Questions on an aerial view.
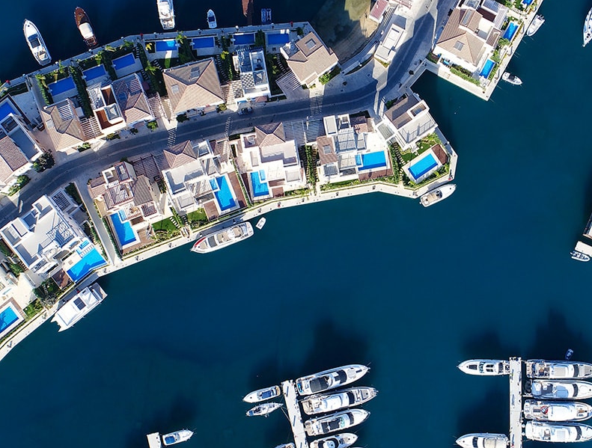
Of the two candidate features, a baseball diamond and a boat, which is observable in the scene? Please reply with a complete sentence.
I can see a boat in this picture.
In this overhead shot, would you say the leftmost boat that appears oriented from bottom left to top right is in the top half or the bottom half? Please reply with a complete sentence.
The bottom half of the photo is where the leftmost boat that appears oriented from bottom left to top right is.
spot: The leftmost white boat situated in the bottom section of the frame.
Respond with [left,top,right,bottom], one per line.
[50,281,110,333]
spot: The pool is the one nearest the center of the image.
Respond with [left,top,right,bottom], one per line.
[241,169,285,199]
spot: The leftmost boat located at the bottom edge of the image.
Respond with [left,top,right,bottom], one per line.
[162,429,193,446]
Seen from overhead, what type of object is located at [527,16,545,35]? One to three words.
boat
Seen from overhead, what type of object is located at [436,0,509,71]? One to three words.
house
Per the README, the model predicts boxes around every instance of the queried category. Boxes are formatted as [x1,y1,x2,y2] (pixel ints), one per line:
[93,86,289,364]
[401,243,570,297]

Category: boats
[241,385,283,402]
[22,17,52,68]
[207,9,217,29]
[50,281,110,333]
[162,429,193,446]
[310,434,360,448]
[451,432,510,448]
[565,349,572,359]
[522,399,592,421]
[453,358,509,375]
[277,442,295,448]
[304,408,373,434]
[155,0,176,32]
[420,184,460,205]
[581,5,592,50]
[246,403,283,417]
[190,225,258,253]
[522,358,592,379]
[300,389,379,415]
[527,16,545,35]
[502,71,523,85]
[256,217,267,228]
[75,7,100,49]
[295,366,371,394]
[570,249,590,262]
[522,420,592,443]
[525,379,592,400]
